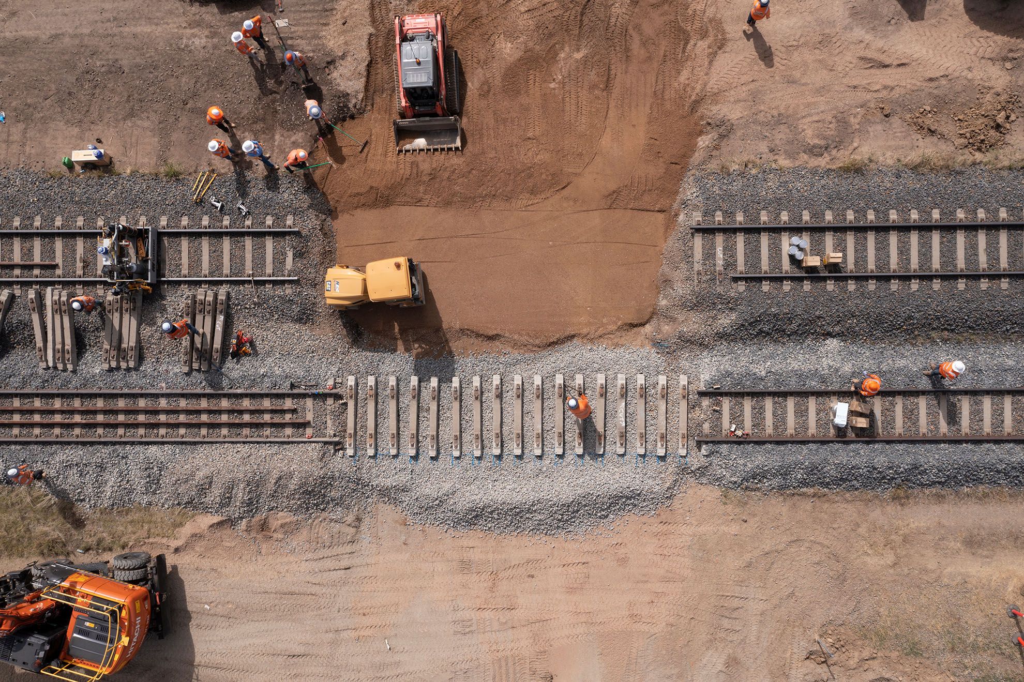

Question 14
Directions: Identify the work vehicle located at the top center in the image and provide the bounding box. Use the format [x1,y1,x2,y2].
[389,13,464,159]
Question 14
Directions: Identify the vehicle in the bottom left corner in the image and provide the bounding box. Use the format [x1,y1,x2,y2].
[0,551,172,682]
